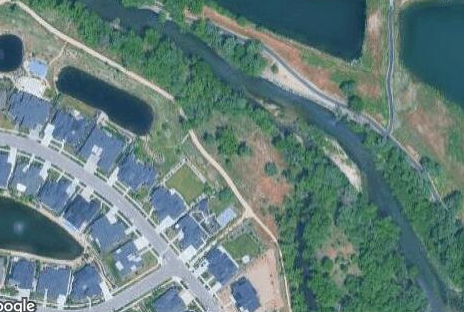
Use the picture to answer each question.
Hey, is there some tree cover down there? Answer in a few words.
Yes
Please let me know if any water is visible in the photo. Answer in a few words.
Yes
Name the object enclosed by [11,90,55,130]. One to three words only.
house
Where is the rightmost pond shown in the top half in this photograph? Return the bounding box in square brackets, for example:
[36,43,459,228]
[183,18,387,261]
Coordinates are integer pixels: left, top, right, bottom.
[56,66,153,134]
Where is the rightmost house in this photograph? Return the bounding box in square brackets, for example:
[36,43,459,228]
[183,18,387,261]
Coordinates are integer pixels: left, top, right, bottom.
[228,278,264,312]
